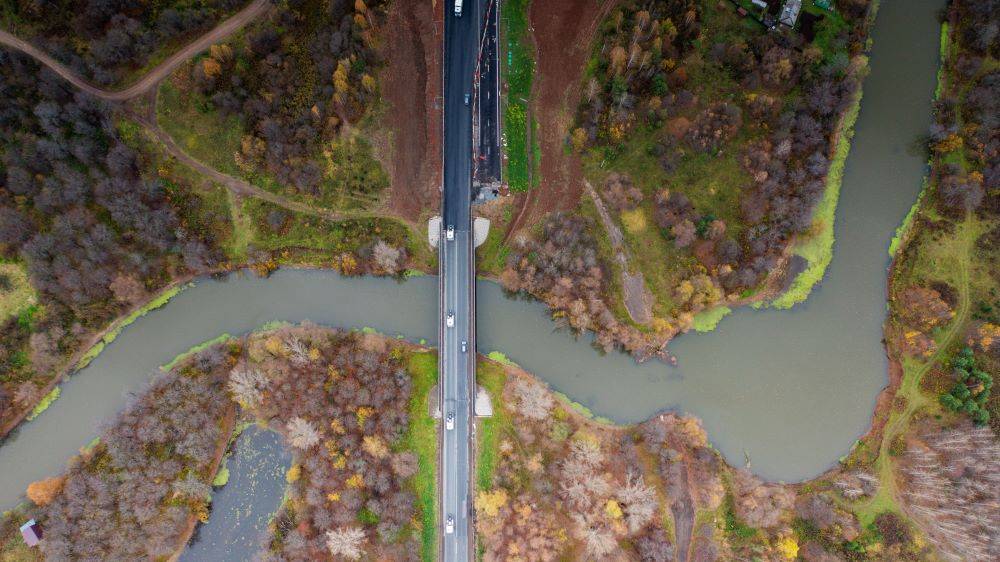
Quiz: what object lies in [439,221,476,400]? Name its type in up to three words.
bridge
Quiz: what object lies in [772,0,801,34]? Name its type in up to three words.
house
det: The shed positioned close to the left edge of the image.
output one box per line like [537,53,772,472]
[17,521,45,546]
